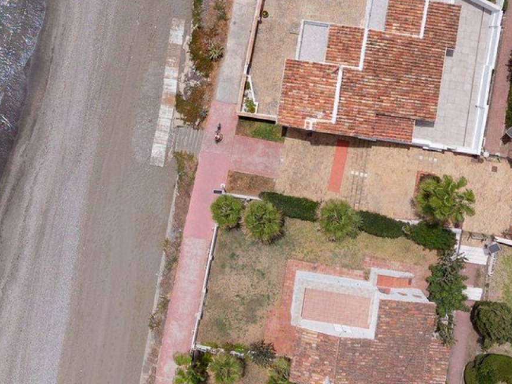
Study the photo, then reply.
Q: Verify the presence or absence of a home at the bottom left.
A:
No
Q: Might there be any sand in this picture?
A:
Yes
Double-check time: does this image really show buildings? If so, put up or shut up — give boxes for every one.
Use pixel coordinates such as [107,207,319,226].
[288,265,451,384]
[277,0,462,143]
